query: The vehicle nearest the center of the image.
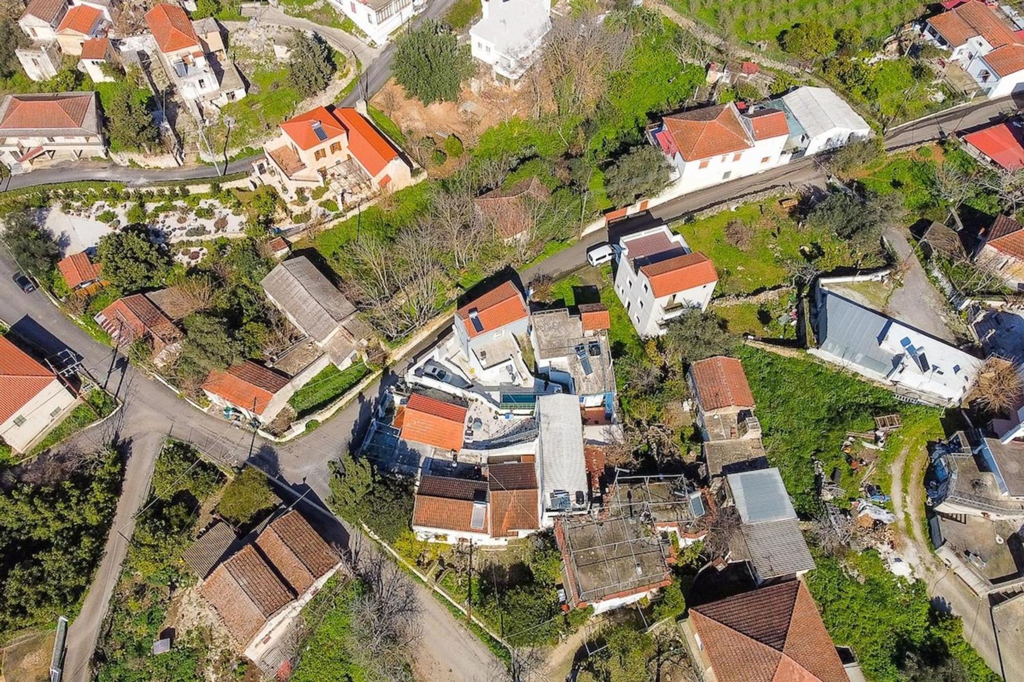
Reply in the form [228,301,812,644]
[422,362,460,388]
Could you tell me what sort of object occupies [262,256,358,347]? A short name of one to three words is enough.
barn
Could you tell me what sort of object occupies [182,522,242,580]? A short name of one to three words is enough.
shed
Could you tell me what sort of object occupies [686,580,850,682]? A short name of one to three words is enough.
house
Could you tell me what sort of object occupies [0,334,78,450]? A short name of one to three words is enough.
building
